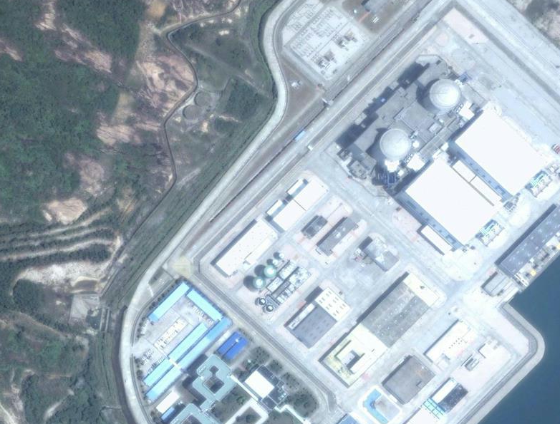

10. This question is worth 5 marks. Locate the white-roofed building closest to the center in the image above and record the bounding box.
[272,200,305,232]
